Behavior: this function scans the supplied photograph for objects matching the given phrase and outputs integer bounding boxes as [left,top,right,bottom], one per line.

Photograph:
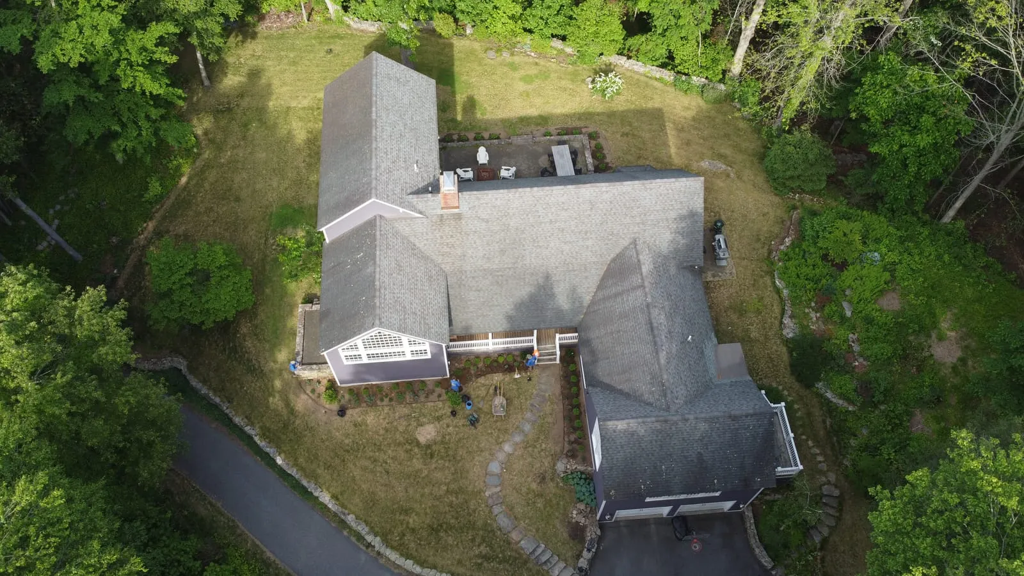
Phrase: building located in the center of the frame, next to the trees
[316,52,805,520]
